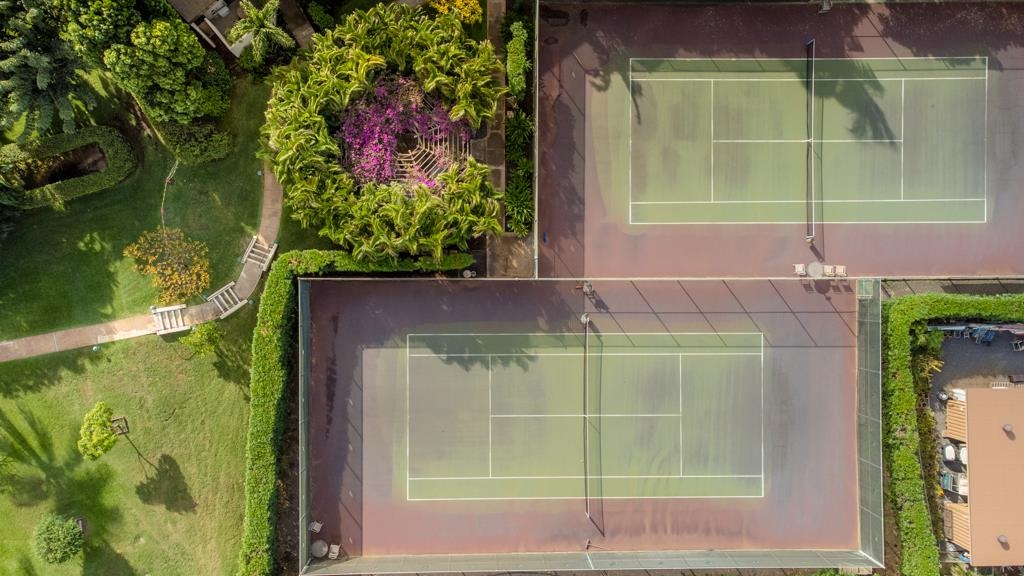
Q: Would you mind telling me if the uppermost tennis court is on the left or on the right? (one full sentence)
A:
The uppermost tennis court appears in the right half of the scene.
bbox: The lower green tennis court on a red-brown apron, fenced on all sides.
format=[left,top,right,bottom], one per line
[312,279,857,552]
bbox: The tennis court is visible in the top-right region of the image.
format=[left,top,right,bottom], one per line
[538,2,1024,278]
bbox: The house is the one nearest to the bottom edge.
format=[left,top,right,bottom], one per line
[931,388,1024,568]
